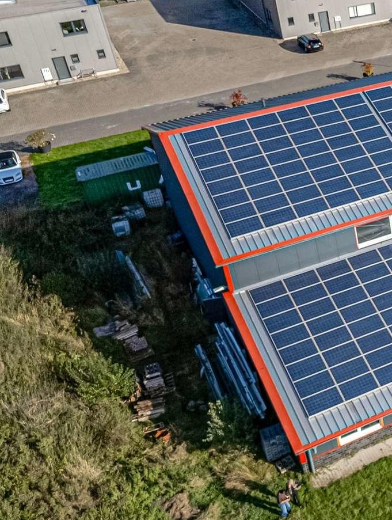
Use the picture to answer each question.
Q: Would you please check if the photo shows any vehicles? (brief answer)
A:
Yes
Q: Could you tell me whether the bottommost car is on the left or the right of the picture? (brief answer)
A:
left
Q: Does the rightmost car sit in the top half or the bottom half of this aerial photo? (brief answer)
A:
top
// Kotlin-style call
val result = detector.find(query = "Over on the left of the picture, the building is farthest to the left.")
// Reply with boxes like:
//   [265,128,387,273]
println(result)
[0,0,120,94]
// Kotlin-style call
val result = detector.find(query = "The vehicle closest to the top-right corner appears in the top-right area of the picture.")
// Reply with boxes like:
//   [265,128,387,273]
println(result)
[295,32,322,53]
